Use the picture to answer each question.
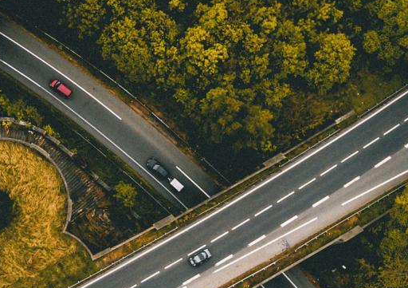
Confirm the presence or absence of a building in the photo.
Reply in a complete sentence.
No, I find no building anywhere in the image.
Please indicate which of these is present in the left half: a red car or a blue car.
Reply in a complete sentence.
Visible in the left half is a red car.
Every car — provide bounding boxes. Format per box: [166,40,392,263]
[188,247,214,267]
[48,78,74,98]
[146,157,172,181]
